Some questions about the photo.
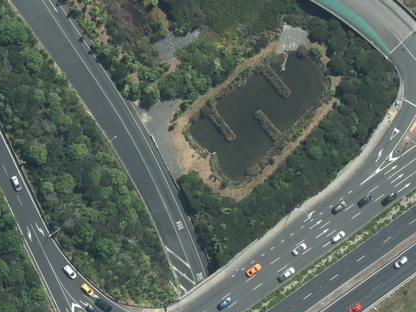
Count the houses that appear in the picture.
zero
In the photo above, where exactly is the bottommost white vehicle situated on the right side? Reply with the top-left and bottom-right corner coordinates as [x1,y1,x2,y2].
[278,268,296,282]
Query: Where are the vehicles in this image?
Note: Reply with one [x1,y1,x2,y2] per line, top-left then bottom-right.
[332,202,347,215]
[10,175,22,191]
[278,268,296,282]
[330,230,346,244]
[348,304,363,312]
[382,193,398,206]
[80,282,95,296]
[394,256,409,268]
[292,242,307,256]
[62,264,77,280]
[95,298,112,312]
[84,304,99,312]
[357,194,373,208]
[246,264,262,277]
